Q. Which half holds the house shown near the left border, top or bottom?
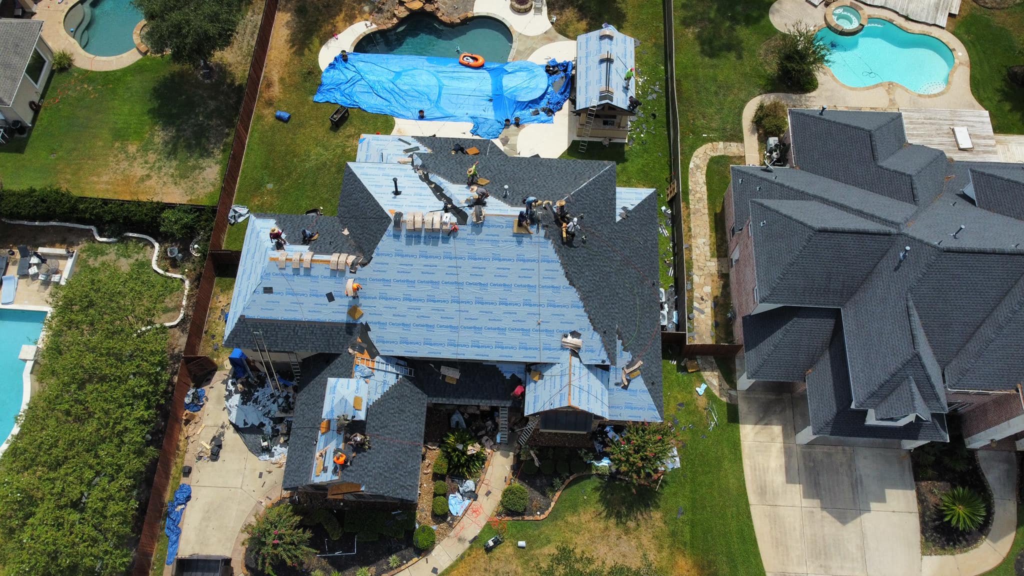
top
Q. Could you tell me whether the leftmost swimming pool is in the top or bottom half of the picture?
bottom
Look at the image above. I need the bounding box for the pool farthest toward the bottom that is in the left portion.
[0,303,52,459]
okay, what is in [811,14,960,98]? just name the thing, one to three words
swimming pool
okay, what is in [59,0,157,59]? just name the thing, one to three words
swimming pool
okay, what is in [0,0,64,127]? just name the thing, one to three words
house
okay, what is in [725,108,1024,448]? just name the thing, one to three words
house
